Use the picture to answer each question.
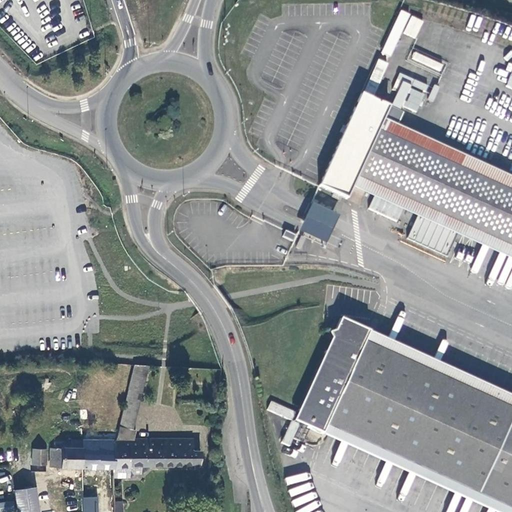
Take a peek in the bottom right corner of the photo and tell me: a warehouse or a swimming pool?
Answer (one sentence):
There is a warehouse in the bottom right corner of the photo.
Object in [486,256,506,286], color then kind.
white vehicle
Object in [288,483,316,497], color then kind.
white vehicle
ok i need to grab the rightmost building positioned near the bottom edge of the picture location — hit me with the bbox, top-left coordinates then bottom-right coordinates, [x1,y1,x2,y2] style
[294,316,512,512]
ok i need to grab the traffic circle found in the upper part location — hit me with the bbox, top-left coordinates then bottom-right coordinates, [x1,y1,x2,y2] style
[98,54,232,188]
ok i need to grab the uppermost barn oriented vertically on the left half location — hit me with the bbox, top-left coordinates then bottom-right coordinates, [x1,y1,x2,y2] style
[120,365,149,430]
